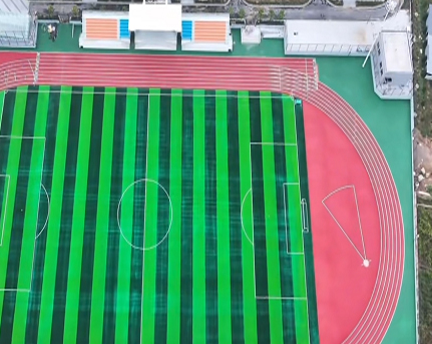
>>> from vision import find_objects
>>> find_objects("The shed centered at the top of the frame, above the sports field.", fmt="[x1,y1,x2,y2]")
[241,28,263,43]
